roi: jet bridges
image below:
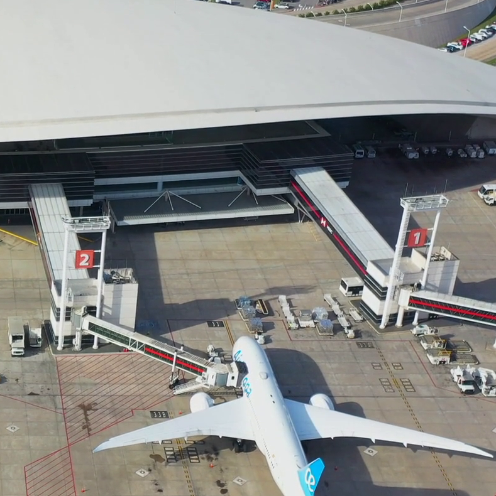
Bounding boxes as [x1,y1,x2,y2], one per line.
[71,307,256,403]
[396,284,496,358]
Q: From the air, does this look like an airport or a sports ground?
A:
airport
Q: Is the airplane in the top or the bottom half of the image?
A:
bottom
